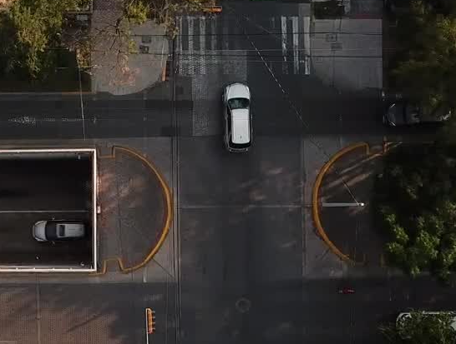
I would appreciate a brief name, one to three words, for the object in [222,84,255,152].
car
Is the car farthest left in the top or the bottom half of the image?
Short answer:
bottom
